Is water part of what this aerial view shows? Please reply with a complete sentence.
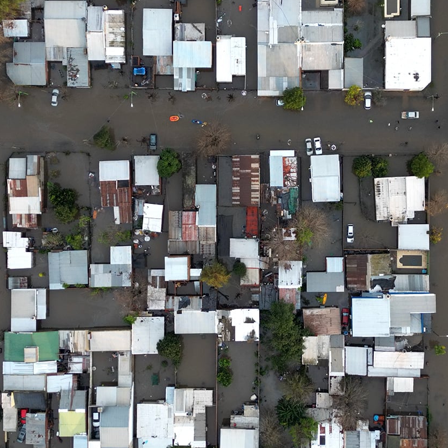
Yes, the picture does contain water.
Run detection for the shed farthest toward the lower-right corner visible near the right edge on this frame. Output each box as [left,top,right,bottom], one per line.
[386,413,432,448]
